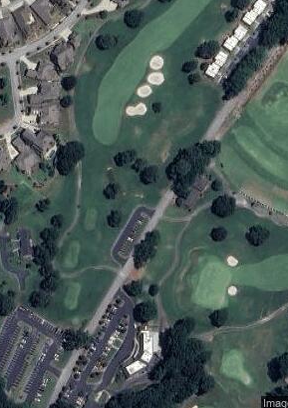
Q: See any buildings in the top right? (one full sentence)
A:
Yes, in the top right there is a building.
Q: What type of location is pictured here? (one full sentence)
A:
This image shows a golf course.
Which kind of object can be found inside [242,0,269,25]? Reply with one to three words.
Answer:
building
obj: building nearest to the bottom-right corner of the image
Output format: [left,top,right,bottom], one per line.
[127,331,161,377]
